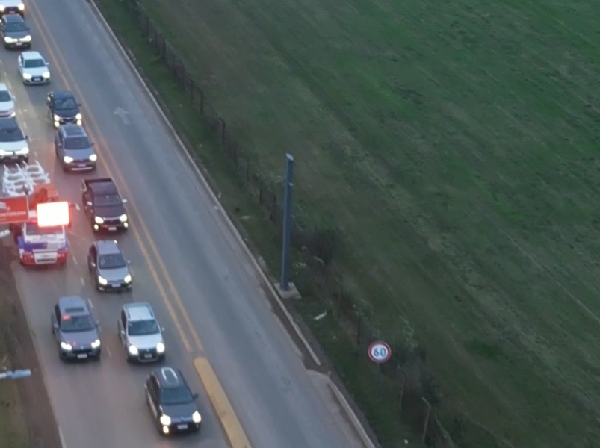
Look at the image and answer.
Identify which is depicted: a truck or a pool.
truck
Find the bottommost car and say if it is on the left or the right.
left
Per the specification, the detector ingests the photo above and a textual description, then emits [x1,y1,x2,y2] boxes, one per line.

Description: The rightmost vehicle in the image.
[144,360,200,435]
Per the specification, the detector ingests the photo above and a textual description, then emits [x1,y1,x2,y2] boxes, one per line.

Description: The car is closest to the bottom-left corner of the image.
[49,296,100,360]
